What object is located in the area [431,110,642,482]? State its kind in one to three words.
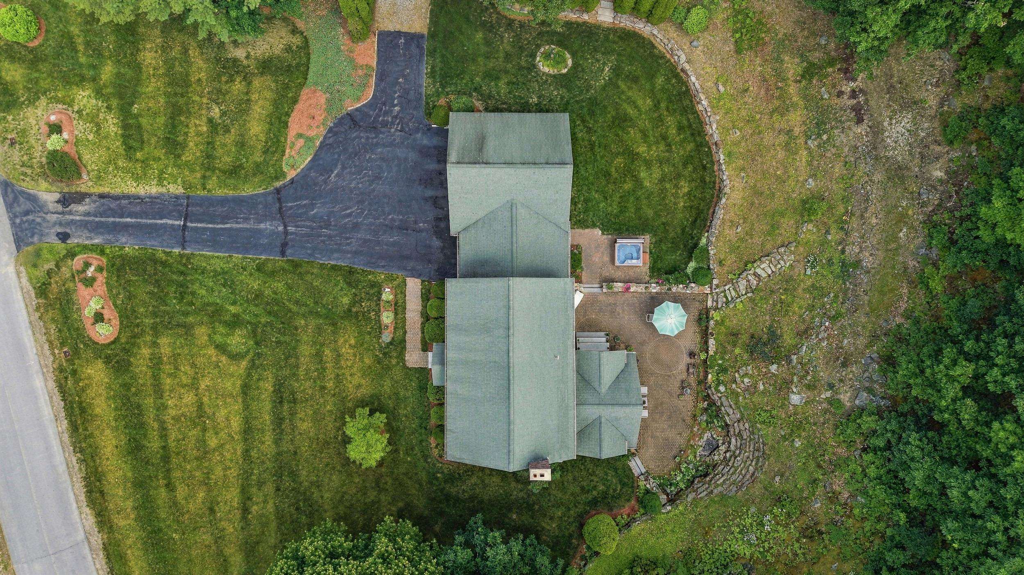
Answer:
house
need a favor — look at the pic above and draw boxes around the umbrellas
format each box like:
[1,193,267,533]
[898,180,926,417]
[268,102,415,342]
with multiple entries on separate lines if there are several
[653,301,686,335]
